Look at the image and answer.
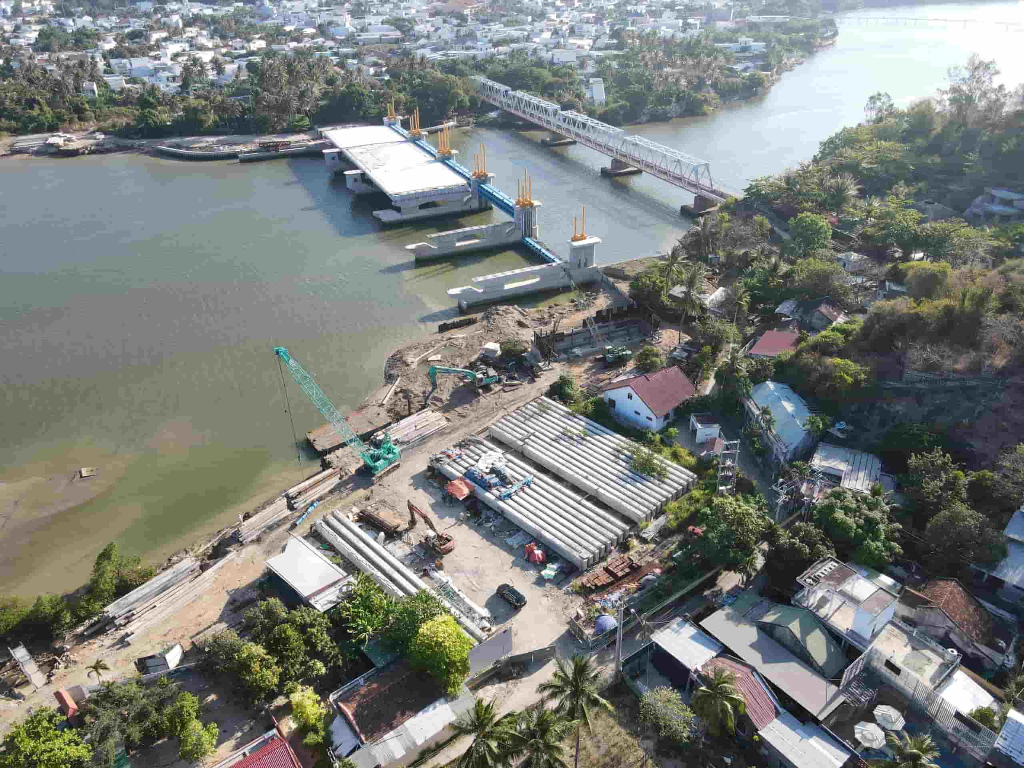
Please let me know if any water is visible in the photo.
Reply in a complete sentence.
Yes, some water is visible.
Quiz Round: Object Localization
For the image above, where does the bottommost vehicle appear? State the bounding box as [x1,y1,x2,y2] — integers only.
[493,580,531,612]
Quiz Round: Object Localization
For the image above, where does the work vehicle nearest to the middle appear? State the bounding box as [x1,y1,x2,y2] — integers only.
[434,354,504,389]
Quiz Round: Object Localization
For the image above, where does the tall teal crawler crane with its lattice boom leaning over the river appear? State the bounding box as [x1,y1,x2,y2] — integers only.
[272,352,409,488]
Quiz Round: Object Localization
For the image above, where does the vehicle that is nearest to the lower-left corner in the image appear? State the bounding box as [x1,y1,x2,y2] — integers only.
[409,500,460,558]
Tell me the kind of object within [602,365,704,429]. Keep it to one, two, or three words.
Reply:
house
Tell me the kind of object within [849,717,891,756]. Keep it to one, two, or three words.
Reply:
umbrella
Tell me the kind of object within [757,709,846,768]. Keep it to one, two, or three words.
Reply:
house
